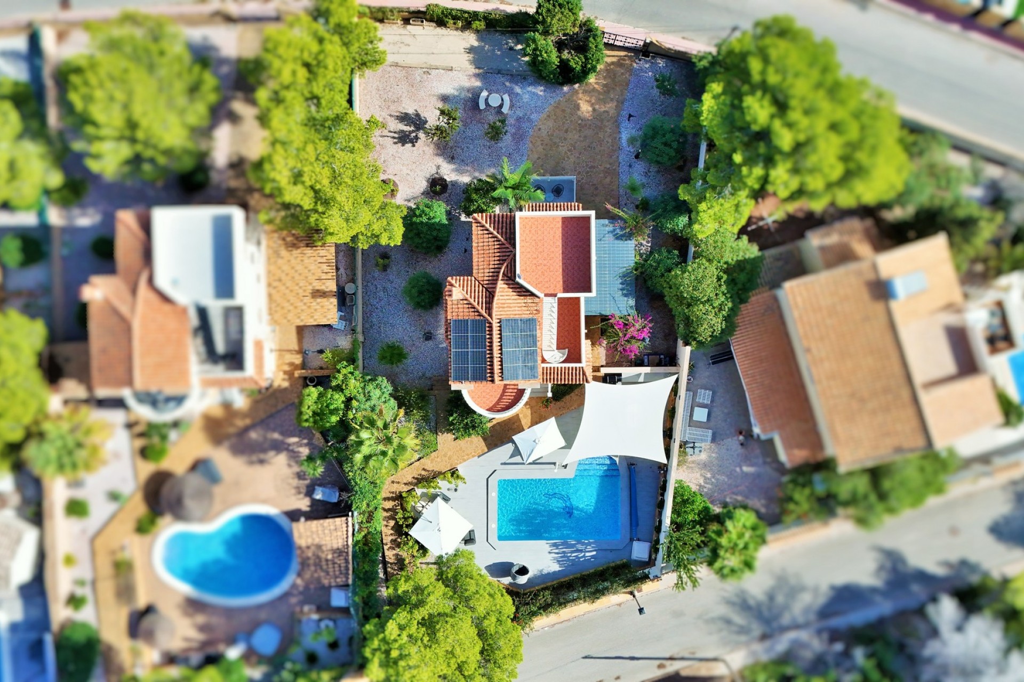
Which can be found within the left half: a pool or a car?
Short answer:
pool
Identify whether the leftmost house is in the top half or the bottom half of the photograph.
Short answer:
bottom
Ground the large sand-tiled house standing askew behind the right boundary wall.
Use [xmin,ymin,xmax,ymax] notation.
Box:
[731,215,1005,471]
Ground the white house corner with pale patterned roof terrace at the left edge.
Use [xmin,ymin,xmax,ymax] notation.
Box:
[0,465,72,622]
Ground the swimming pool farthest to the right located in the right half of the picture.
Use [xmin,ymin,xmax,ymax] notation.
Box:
[996,343,1024,402]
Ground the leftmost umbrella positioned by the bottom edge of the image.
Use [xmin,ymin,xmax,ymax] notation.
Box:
[134,602,181,650]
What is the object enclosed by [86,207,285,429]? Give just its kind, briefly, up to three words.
house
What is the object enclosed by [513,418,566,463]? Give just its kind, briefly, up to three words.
umbrella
